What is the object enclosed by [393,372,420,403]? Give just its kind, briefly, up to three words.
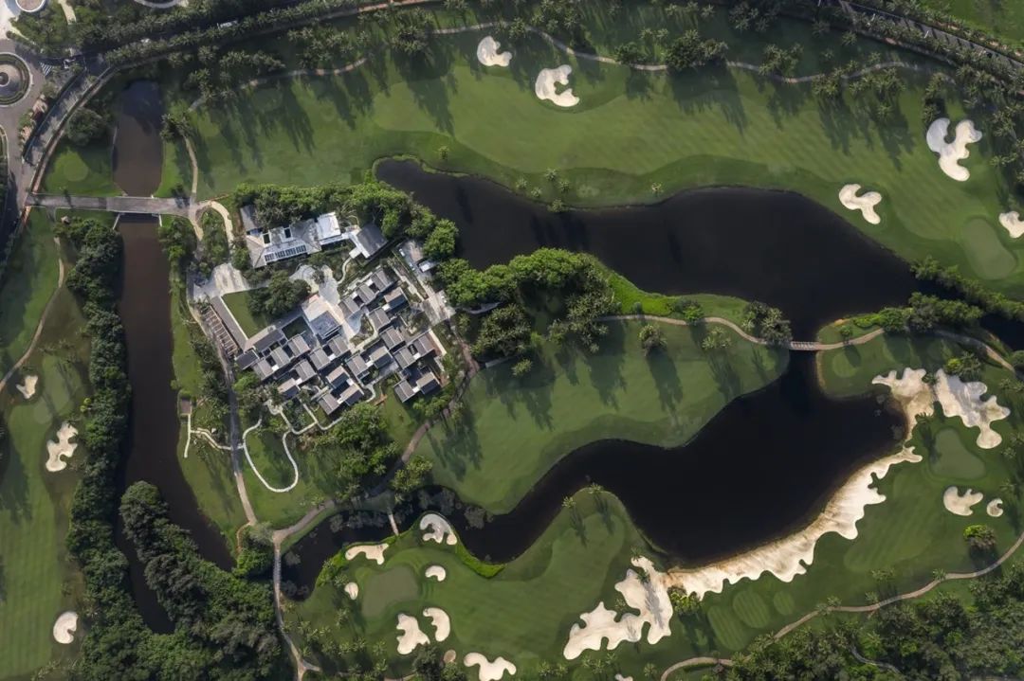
house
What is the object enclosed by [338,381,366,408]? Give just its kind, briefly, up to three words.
house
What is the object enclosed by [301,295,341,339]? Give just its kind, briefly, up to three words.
building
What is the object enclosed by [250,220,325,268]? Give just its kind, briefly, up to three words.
building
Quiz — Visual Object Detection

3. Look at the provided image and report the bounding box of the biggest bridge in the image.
[104,191,172,230]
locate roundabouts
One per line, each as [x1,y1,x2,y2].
[0,46,33,109]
